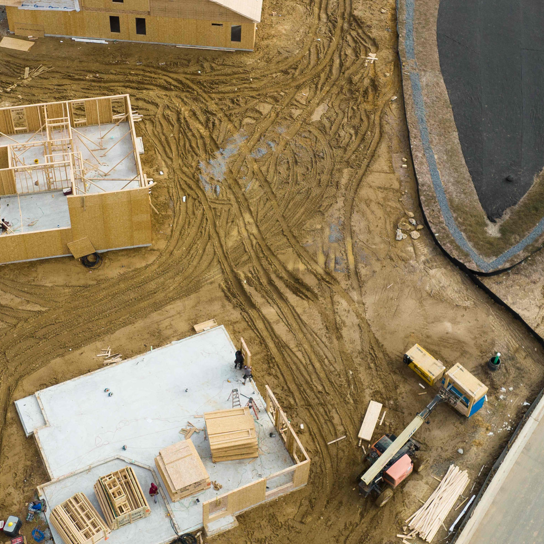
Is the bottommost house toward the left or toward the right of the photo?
left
